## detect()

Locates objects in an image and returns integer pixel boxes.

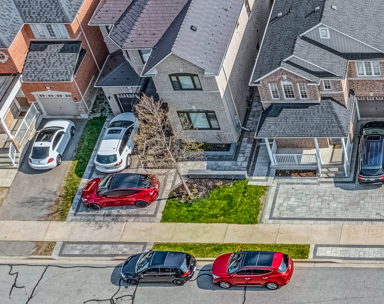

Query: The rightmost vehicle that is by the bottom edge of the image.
[206,257,294,301]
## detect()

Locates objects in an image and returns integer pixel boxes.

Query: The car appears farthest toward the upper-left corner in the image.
[29,119,78,170]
